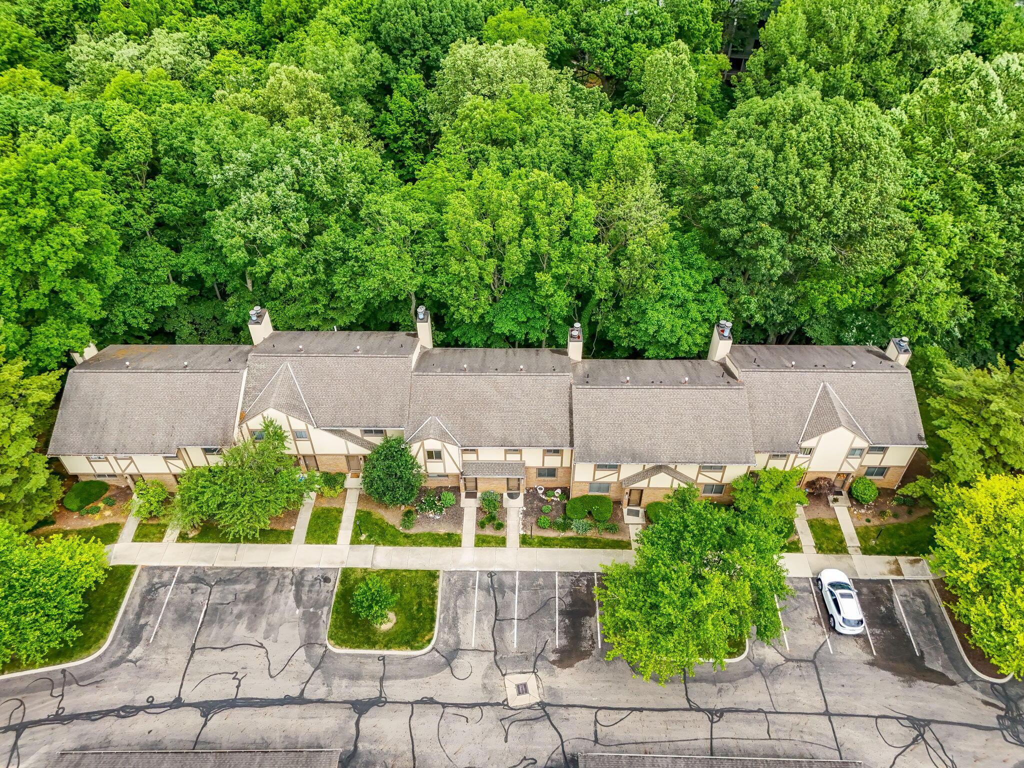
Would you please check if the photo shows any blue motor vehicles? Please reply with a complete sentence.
No, no blue motor vehicle is visible in the scene.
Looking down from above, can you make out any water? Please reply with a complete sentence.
No, there's no water in this view.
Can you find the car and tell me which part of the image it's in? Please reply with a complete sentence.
The car appears toward the bottom right of the photo.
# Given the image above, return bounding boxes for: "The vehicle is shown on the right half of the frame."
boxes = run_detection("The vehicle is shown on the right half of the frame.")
[819,569,867,636]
